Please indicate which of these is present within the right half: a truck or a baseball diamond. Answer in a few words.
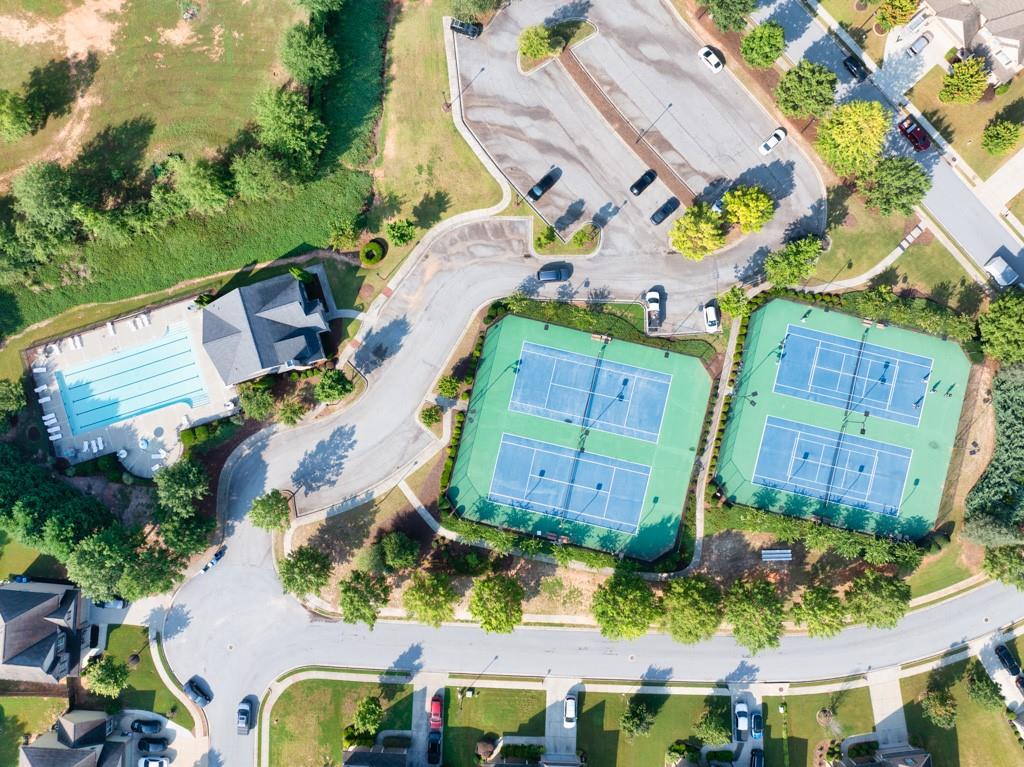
truck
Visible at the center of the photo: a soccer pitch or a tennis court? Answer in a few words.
tennis court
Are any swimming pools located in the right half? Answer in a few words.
No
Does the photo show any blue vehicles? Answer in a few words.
Yes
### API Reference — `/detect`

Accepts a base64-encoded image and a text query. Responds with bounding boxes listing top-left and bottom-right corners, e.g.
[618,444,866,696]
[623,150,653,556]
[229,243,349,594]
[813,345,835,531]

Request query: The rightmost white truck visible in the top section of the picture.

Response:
[981,251,1018,287]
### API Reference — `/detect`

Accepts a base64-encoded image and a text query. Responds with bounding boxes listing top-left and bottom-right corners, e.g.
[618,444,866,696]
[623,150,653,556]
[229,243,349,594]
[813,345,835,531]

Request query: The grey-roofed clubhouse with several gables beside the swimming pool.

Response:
[202,276,332,383]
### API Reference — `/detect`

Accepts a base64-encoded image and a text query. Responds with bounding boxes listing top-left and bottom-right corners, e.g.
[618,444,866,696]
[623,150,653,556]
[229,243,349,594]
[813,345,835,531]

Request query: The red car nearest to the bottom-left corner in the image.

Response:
[429,695,443,727]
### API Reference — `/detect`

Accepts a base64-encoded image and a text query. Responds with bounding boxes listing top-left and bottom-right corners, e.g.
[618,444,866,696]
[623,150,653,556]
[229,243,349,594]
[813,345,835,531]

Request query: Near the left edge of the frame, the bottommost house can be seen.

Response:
[21,704,140,767]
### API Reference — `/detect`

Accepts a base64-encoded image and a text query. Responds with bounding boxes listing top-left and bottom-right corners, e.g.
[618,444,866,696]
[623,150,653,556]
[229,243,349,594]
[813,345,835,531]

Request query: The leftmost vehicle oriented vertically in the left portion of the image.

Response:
[236,696,252,733]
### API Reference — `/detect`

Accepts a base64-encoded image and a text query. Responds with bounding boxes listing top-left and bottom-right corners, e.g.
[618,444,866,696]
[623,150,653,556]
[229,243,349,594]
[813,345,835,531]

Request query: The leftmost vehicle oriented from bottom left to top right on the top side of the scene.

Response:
[529,172,556,200]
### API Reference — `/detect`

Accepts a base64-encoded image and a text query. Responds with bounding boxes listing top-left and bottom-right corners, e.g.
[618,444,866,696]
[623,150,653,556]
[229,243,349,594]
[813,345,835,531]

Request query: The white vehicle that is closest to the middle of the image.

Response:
[646,292,661,330]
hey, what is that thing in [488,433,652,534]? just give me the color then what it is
blue tennis court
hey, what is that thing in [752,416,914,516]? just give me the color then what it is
blue tennis court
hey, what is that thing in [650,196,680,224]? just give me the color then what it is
blue car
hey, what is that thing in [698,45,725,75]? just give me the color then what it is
white car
